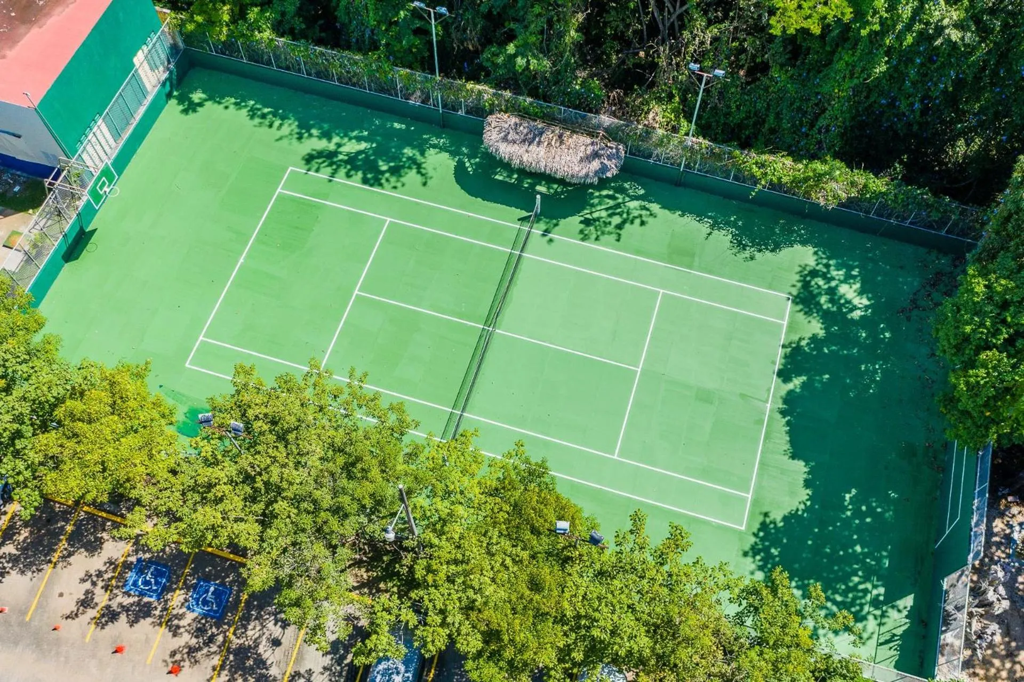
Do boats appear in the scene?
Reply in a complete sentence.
No, I can see no boat in this picture.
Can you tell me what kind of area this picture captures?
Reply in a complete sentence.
This looks like a sports ground.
